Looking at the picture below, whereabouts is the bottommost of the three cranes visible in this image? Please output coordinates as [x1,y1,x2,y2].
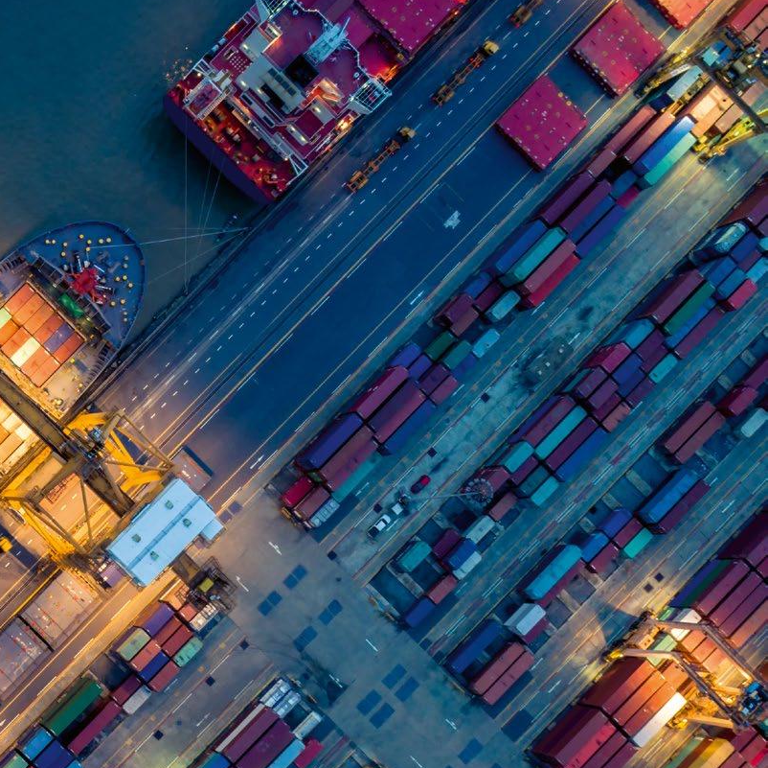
[602,605,768,745]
